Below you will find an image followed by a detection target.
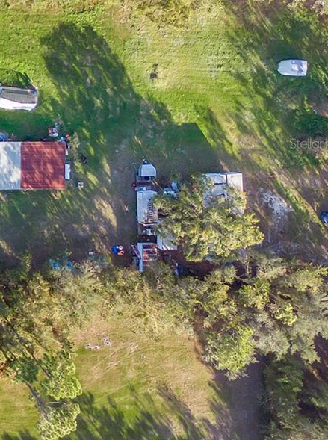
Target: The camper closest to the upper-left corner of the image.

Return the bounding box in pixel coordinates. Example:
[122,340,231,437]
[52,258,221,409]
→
[133,159,156,182]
